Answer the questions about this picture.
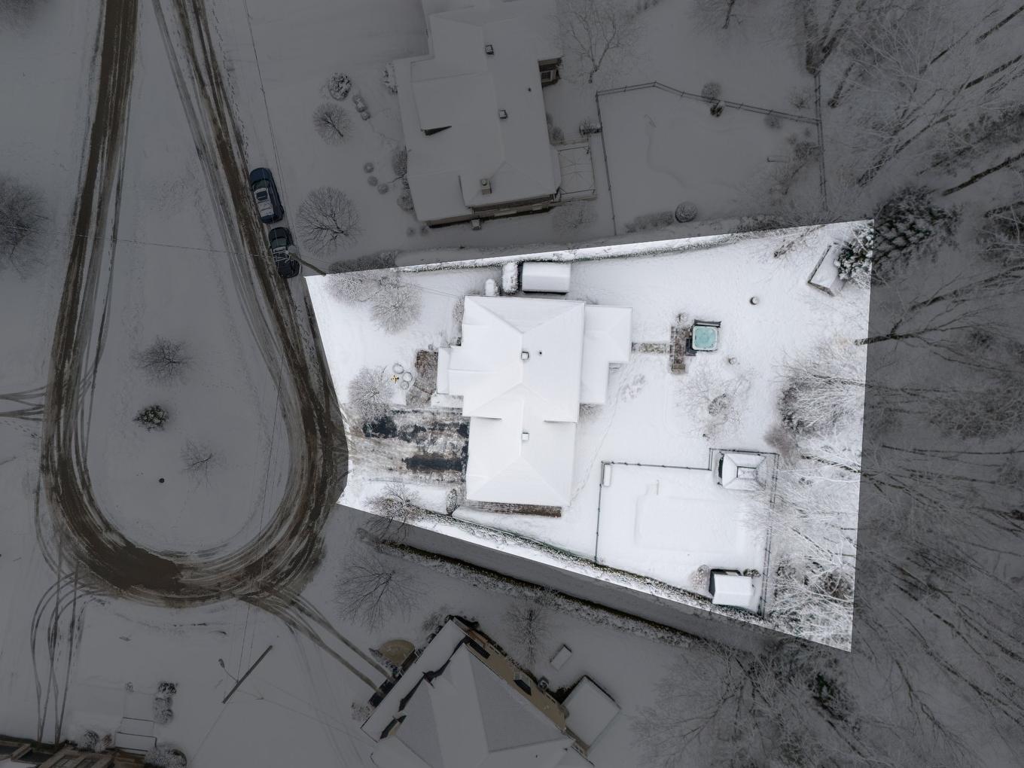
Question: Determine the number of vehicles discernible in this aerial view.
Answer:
2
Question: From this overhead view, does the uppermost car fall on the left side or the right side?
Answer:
left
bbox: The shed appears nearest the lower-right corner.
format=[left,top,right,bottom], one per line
[708,569,757,606]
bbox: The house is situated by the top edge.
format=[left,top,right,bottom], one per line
[393,0,563,222]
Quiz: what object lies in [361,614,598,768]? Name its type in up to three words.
house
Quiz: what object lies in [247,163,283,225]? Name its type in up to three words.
car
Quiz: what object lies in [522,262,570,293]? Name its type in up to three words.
shed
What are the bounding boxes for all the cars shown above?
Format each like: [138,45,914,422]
[247,163,283,225]
[266,222,301,283]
